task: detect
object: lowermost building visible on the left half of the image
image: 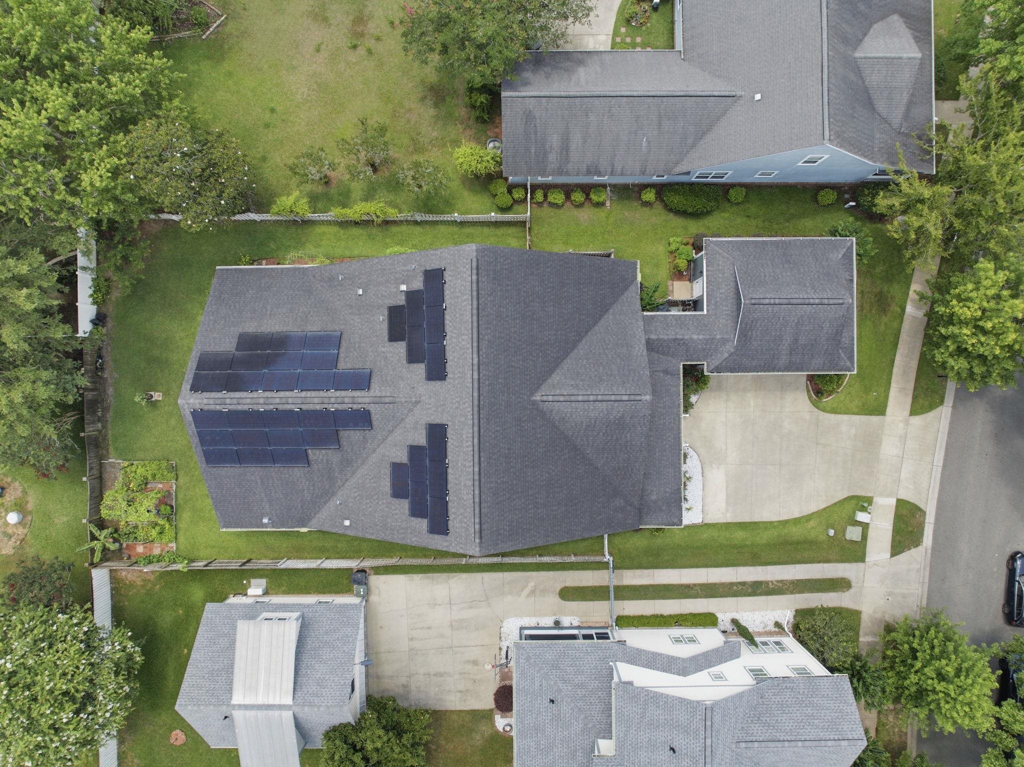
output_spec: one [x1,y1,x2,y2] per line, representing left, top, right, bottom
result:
[175,594,368,767]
